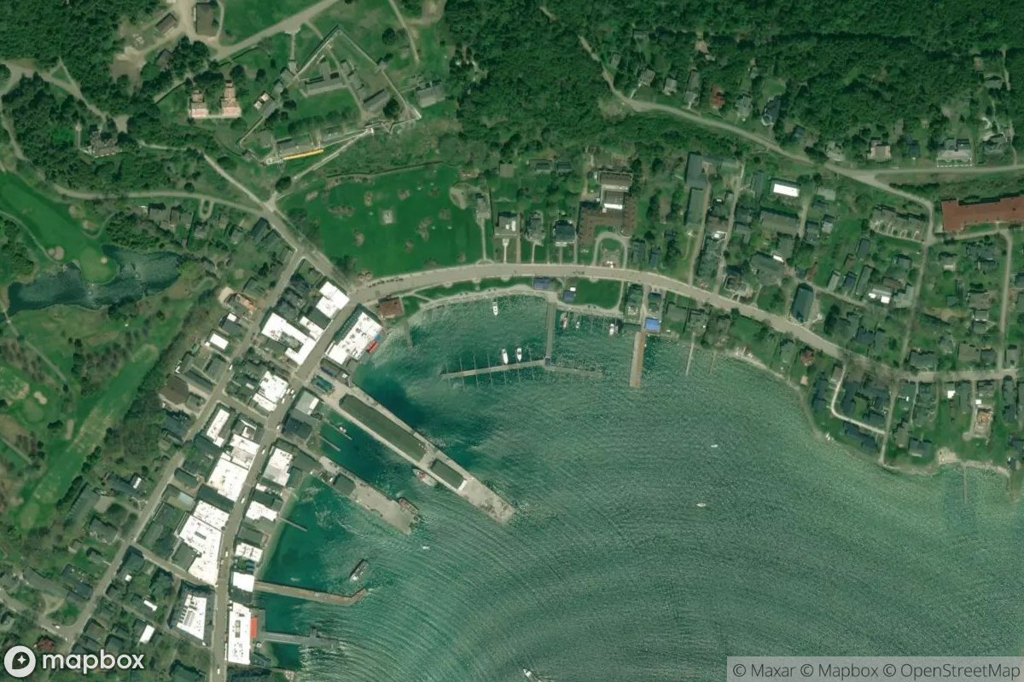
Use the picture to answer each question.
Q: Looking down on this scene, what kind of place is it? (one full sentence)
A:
It's a residential area.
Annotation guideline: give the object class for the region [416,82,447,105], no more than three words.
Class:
house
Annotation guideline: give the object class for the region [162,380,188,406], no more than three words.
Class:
building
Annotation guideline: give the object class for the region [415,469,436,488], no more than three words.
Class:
ship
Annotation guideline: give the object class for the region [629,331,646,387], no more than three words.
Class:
pier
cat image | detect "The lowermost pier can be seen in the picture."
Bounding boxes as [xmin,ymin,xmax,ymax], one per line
[262,629,339,647]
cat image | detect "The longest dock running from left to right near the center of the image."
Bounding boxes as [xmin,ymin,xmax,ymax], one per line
[441,358,546,378]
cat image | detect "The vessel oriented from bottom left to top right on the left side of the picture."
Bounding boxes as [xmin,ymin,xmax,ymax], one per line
[350,560,367,580]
